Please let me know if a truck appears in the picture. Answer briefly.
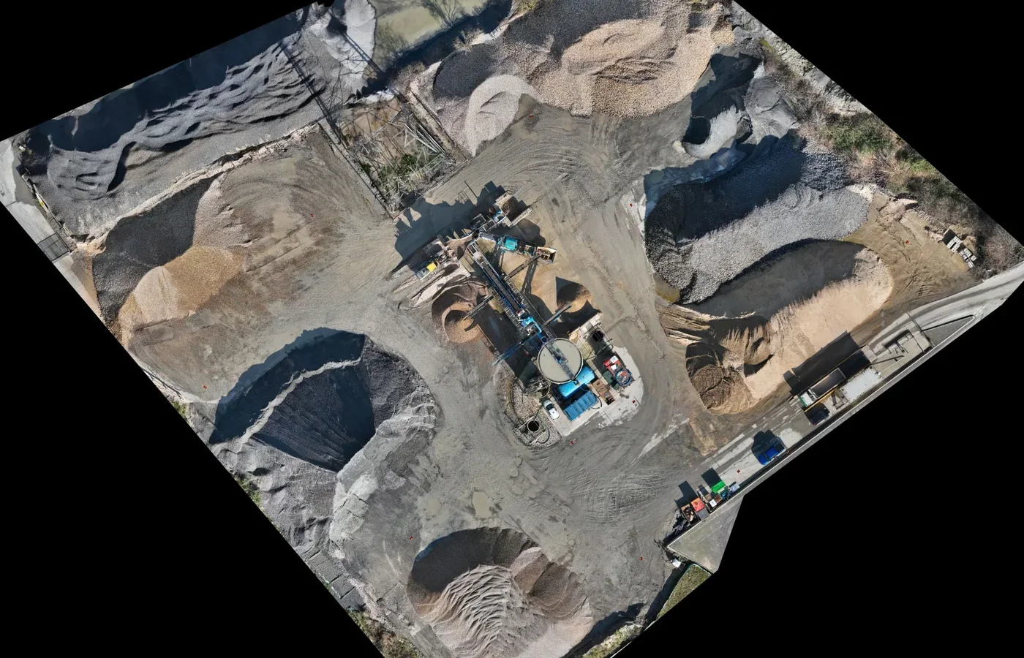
Yes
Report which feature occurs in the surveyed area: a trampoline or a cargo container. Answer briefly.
cargo container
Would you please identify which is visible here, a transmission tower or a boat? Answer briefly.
transmission tower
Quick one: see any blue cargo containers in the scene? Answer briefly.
Yes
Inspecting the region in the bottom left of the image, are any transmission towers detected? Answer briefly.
No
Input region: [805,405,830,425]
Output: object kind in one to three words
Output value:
car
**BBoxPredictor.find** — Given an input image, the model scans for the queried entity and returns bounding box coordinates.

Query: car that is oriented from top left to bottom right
[542,399,561,421]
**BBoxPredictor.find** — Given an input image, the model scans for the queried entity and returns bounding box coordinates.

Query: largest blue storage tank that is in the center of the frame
[557,368,596,404]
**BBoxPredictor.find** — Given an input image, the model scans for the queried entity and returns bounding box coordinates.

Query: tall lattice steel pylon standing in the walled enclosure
[348,93,453,206]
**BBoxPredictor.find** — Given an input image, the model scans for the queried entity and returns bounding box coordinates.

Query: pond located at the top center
[371,0,505,80]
